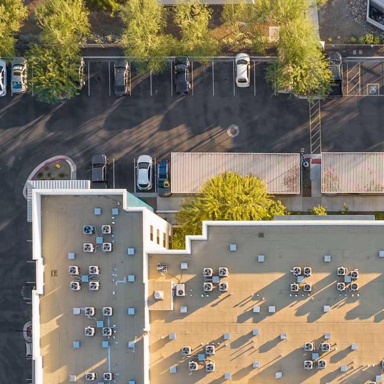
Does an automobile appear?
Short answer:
Yes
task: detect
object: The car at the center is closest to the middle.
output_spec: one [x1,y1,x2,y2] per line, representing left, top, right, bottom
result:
[154,161,171,197]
